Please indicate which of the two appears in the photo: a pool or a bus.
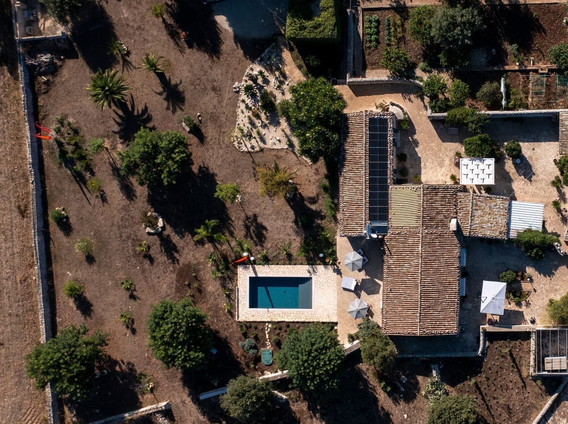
pool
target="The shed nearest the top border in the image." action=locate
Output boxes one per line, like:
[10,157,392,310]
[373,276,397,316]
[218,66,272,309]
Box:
[286,0,345,47]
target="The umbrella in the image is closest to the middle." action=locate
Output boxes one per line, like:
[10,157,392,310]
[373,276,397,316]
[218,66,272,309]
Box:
[343,250,364,271]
